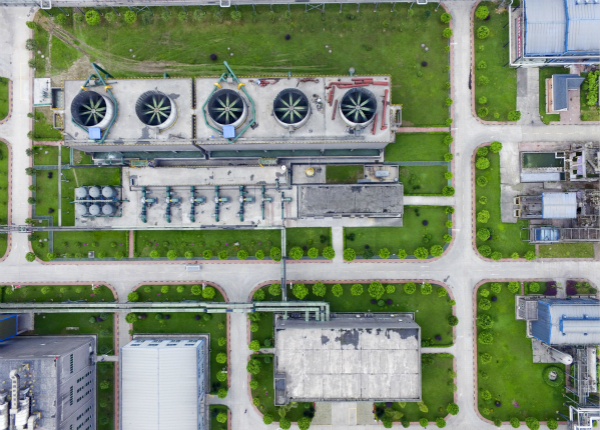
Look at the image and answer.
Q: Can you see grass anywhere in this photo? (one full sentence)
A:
Yes, there is grass in the image.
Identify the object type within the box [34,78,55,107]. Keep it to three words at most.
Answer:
building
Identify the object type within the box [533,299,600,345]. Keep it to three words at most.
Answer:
building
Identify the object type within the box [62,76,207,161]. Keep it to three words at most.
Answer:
cooling tower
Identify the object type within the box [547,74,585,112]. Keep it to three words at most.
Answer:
house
